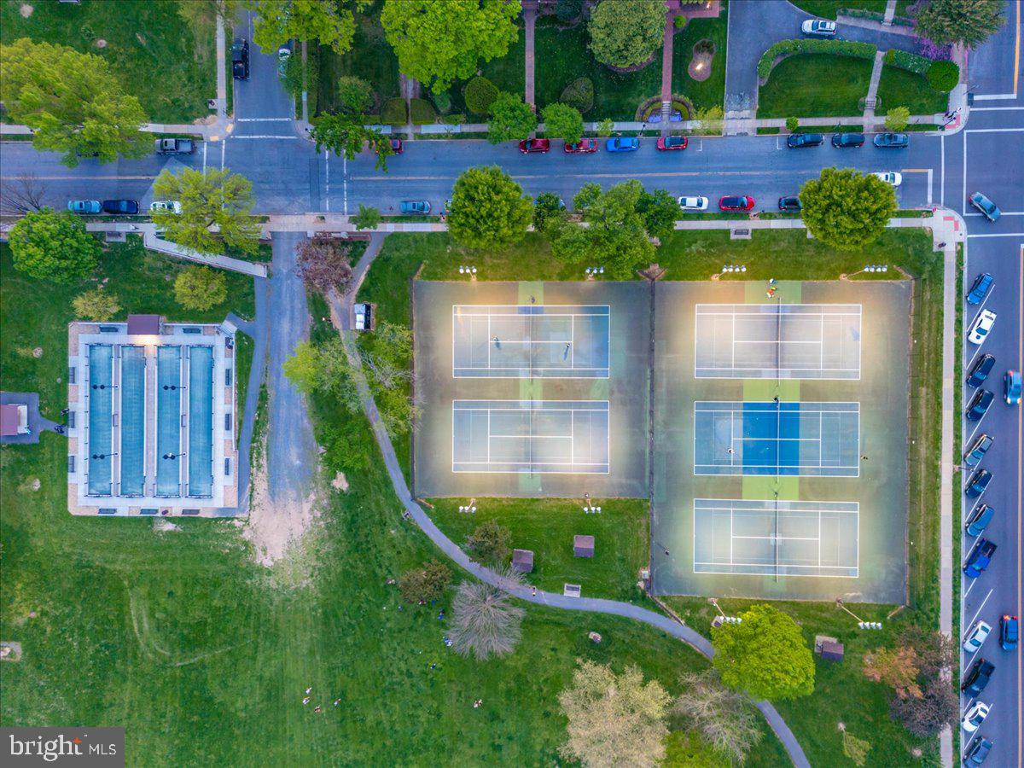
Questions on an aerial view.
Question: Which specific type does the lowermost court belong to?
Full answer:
I'd identify the lowermost court as a tennis court.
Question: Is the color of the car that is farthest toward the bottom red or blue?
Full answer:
From above, the car that is farthest toward the bottom appears blue.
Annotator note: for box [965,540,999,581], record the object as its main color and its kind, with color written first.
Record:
blue truck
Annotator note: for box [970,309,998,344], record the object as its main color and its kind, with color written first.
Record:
white car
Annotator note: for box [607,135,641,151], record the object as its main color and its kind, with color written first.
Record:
blue car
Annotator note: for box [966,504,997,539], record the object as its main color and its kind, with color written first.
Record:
blue car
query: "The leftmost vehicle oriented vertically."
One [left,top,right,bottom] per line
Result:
[231,37,248,79]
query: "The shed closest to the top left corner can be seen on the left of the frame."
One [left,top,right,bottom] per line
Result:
[127,315,174,335]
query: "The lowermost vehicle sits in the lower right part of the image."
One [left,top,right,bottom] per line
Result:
[964,740,992,768]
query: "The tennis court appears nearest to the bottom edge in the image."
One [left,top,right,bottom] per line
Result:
[656,488,908,605]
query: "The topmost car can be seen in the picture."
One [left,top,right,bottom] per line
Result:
[804,16,840,34]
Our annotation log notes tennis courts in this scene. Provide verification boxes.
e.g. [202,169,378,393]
[657,279,911,390]
[656,390,910,488]
[656,488,908,605]
[415,281,651,390]
[415,390,651,499]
